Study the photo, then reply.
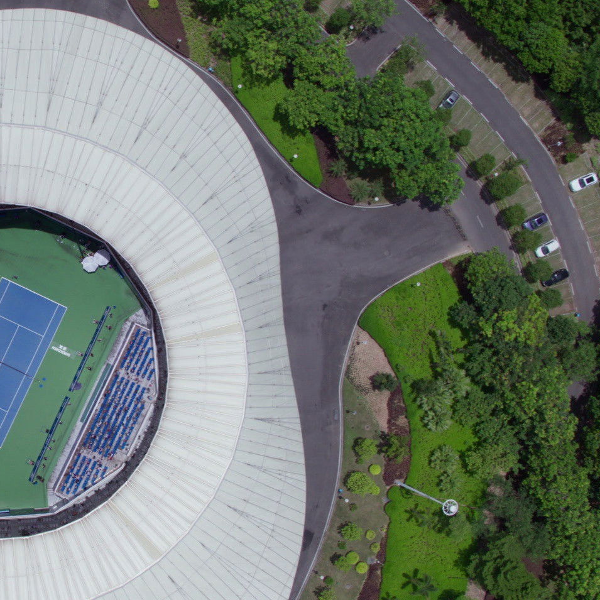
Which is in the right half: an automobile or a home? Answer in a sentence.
There is an automobile in the right half.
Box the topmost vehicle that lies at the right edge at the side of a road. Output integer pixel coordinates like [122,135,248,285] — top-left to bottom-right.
[568,171,599,192]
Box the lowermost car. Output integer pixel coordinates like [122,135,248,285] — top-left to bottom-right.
[541,268,571,288]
